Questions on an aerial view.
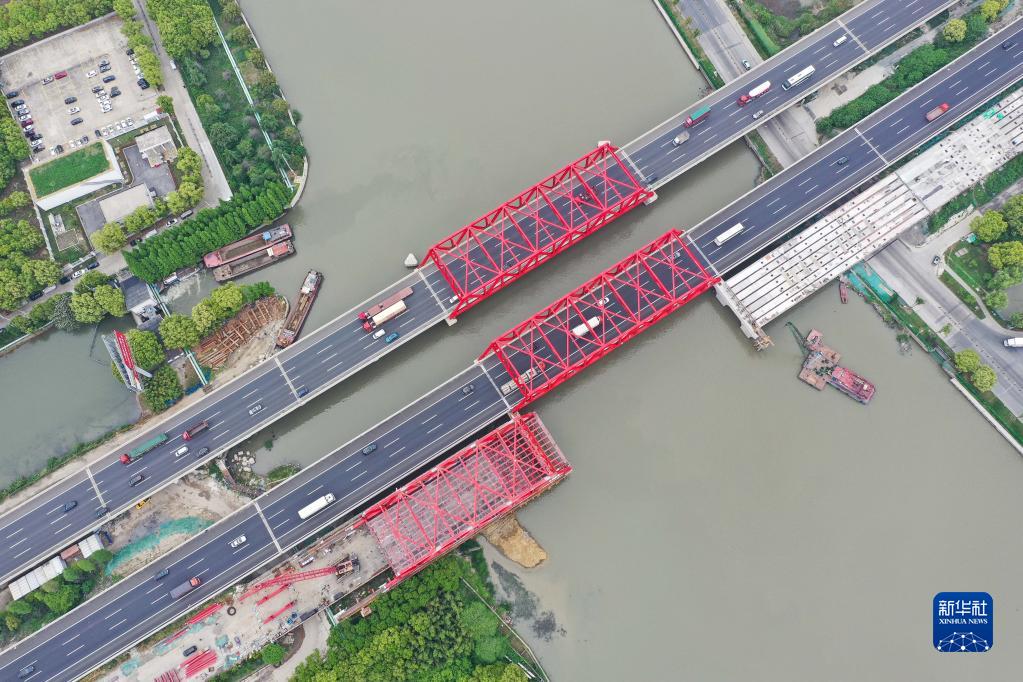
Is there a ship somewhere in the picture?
Yes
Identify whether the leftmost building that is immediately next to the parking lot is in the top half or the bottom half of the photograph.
top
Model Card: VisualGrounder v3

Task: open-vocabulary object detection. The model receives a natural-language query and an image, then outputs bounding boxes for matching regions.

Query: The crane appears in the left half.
[239,553,362,601]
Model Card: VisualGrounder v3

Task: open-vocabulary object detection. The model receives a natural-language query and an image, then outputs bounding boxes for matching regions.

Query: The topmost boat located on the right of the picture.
[836,282,849,304]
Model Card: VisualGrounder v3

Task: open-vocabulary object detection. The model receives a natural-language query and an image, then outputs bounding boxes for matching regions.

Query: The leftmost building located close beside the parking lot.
[24,139,121,208]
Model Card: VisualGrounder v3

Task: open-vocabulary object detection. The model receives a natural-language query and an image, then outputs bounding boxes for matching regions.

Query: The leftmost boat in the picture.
[164,266,202,288]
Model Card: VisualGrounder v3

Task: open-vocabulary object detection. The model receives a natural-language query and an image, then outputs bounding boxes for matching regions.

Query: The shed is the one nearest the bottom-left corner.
[10,556,67,600]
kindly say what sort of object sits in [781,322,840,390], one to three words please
ship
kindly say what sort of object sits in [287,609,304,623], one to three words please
vehicle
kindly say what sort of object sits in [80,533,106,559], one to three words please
shed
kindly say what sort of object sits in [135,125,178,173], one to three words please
house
